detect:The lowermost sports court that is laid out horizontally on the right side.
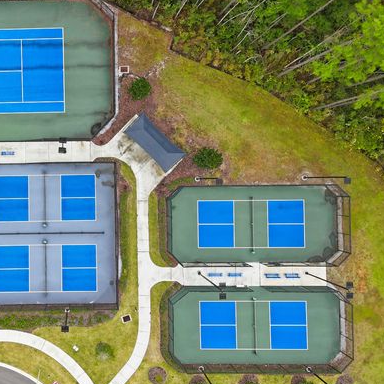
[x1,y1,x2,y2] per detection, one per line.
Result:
[174,286,341,365]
